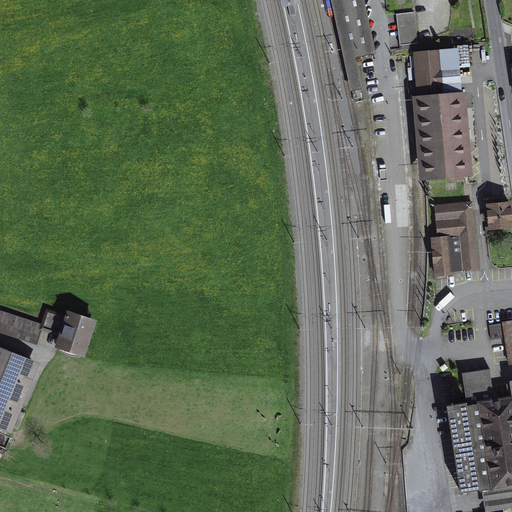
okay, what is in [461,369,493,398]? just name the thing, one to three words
building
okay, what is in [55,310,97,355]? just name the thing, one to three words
house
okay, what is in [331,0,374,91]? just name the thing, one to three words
shed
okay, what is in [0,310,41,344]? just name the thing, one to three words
barn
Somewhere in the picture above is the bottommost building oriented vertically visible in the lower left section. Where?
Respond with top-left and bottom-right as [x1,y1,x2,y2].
[0,348,40,433]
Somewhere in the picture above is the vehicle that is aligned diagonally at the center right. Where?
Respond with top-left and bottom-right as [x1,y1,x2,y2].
[436,292,454,310]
